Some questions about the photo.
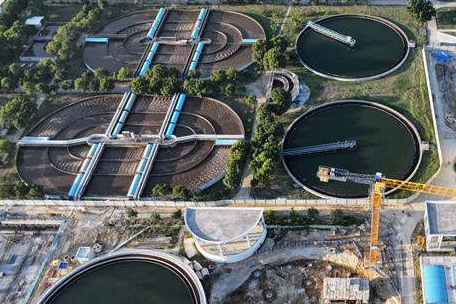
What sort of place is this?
industrial area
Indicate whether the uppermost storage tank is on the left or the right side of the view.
right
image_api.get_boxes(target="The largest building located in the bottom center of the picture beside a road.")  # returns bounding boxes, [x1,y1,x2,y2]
[183,206,272,261]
